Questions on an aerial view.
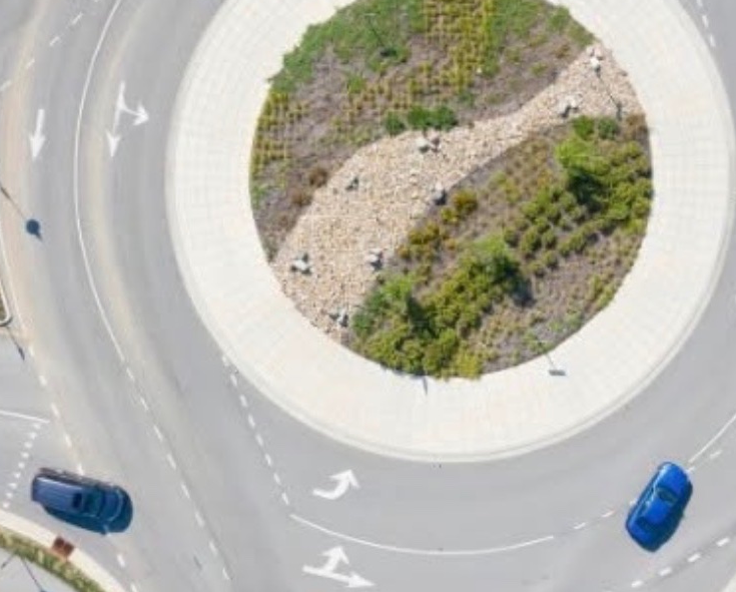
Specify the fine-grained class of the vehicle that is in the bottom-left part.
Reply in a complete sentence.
Looking closely, the vehicle that is in the bottom-left part is an automobile.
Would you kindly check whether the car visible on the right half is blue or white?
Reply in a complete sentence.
The color of the car visible on the right half is blue.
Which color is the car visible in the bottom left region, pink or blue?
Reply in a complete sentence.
The car visible in the bottom left region looks blue in the image.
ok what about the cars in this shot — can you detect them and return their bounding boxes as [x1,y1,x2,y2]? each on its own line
[33,472,130,528]
[627,462,694,554]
